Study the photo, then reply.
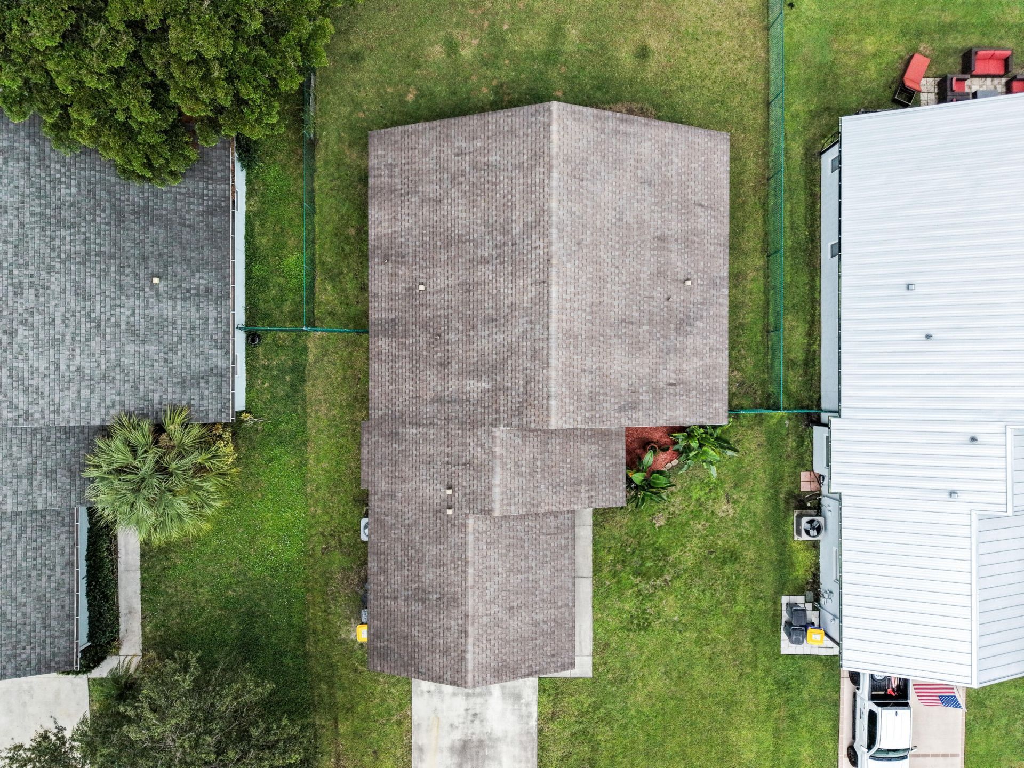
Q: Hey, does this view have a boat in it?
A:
No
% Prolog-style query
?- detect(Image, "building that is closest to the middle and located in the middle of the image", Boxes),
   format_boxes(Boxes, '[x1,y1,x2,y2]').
[361,102,733,688]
